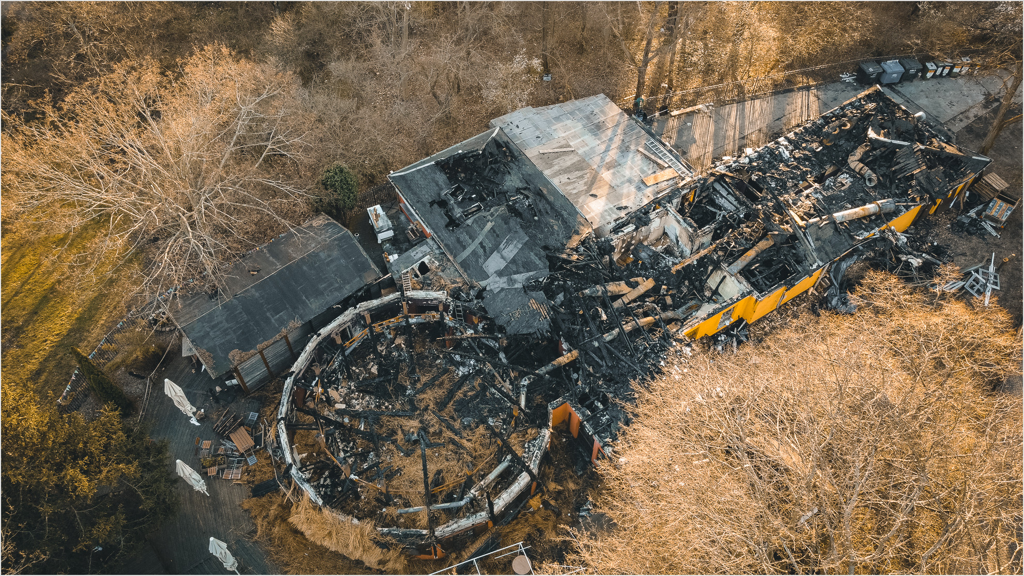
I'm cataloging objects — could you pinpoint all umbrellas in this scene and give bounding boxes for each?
[206,545,244,576]
[166,380,203,429]
[176,456,215,502]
